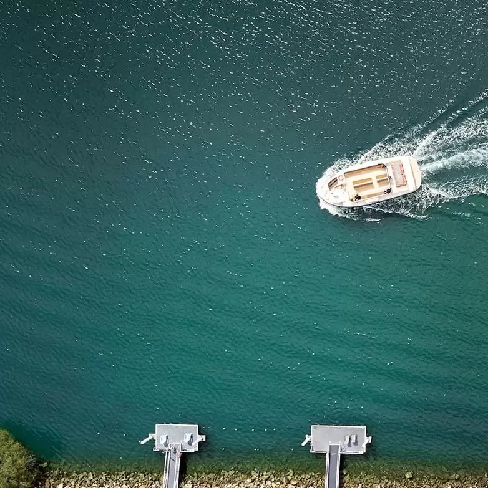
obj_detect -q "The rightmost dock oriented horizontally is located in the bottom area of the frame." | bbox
[305,424,372,454]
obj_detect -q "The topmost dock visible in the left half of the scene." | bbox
[148,423,206,452]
